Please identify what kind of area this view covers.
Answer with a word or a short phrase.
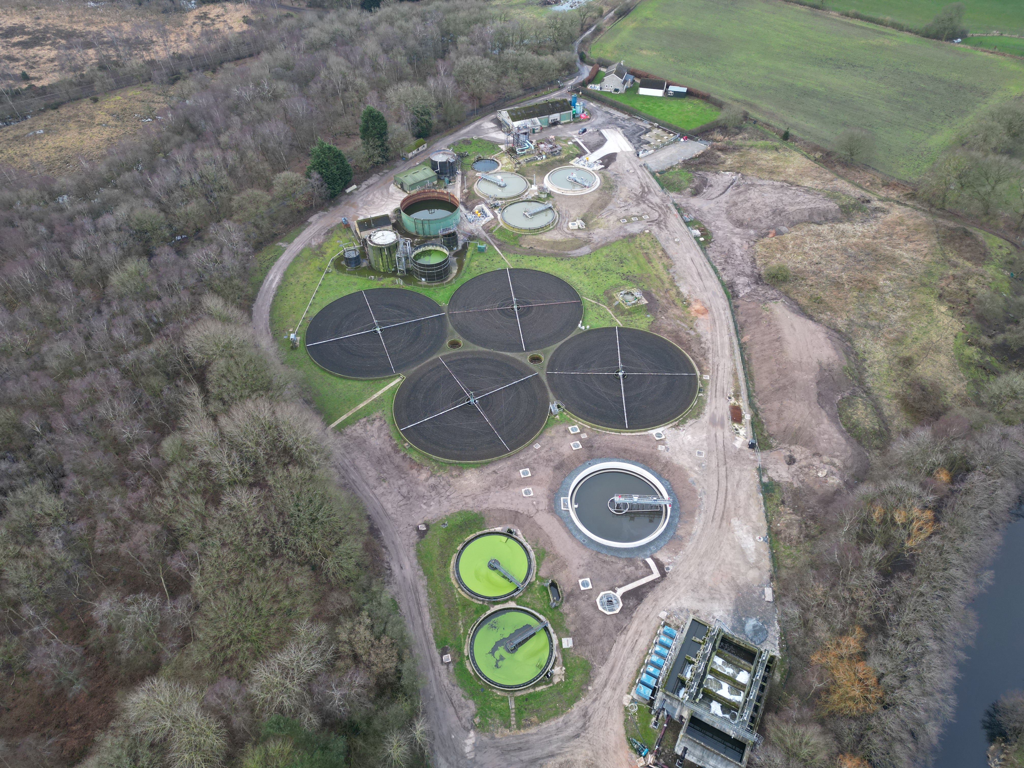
industrial area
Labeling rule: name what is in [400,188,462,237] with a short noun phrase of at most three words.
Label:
storage tank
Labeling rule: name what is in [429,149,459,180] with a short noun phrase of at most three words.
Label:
storage tank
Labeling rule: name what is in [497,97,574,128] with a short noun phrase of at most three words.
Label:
building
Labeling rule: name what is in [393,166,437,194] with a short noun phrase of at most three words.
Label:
shed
